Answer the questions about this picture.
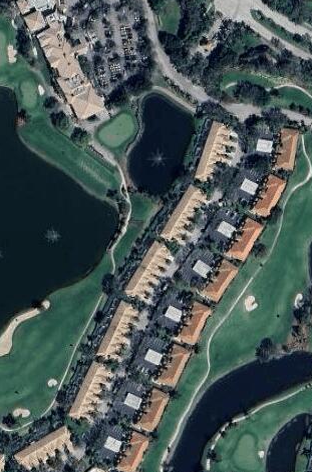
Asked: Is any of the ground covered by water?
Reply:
Yes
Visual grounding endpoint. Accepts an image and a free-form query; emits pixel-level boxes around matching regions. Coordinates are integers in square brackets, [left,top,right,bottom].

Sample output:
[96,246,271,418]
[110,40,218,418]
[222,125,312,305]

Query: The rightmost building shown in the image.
[276,128,297,169]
